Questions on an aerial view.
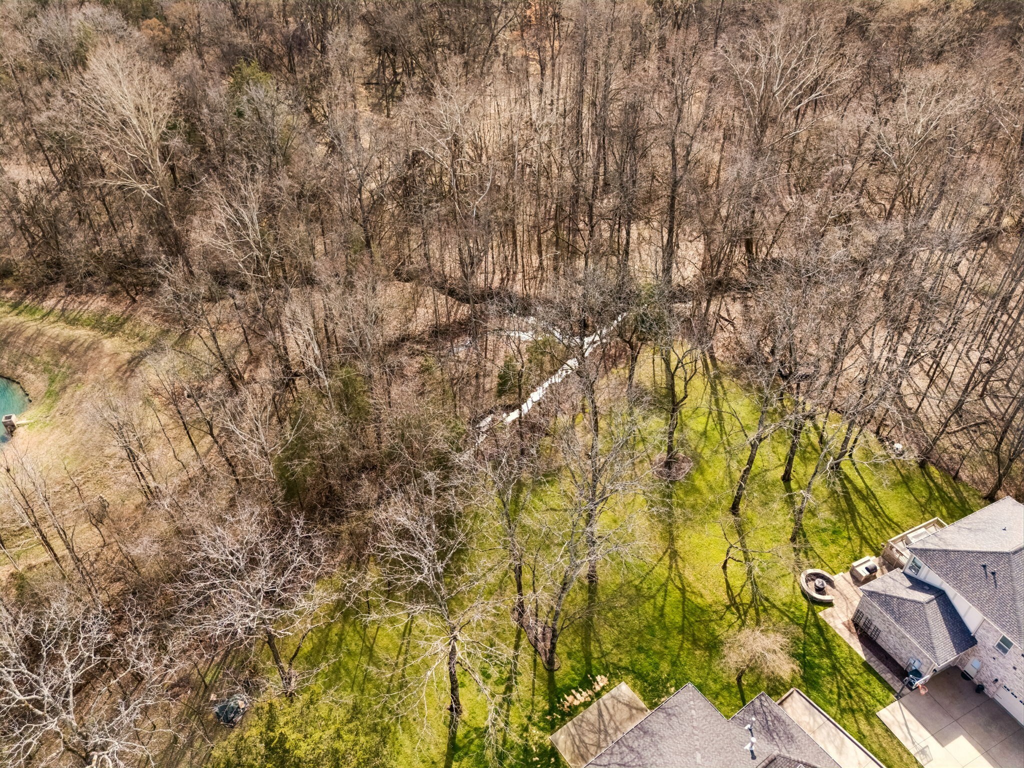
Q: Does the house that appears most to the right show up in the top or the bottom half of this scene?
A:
bottom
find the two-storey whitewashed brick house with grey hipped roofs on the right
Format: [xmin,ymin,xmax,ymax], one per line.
[854,495,1024,727]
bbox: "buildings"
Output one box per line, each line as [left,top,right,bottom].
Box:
[579,681,832,768]
[854,495,1024,727]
